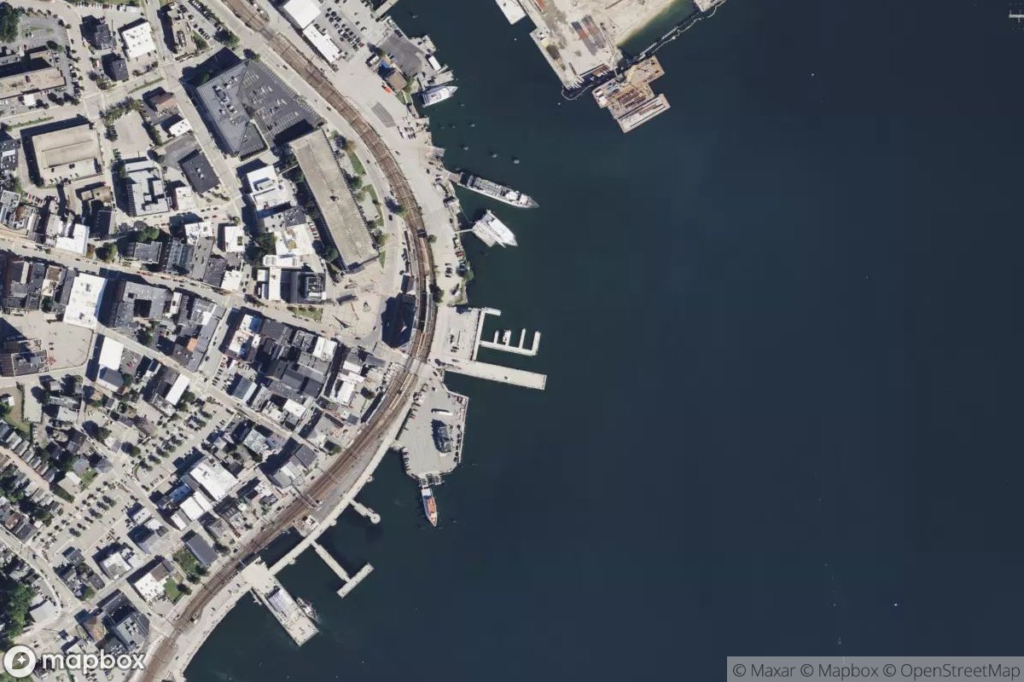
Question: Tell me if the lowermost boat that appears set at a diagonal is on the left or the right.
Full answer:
It is on the left.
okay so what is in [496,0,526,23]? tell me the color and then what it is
white ship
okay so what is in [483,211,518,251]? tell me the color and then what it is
white ship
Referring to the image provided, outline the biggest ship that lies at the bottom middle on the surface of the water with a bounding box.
[421,487,439,527]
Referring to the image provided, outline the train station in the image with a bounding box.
[385,228,436,415]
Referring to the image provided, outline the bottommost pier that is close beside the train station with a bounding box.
[270,433,400,578]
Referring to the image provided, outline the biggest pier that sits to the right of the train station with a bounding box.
[444,359,546,390]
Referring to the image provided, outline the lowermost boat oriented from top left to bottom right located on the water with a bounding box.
[296,597,316,619]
